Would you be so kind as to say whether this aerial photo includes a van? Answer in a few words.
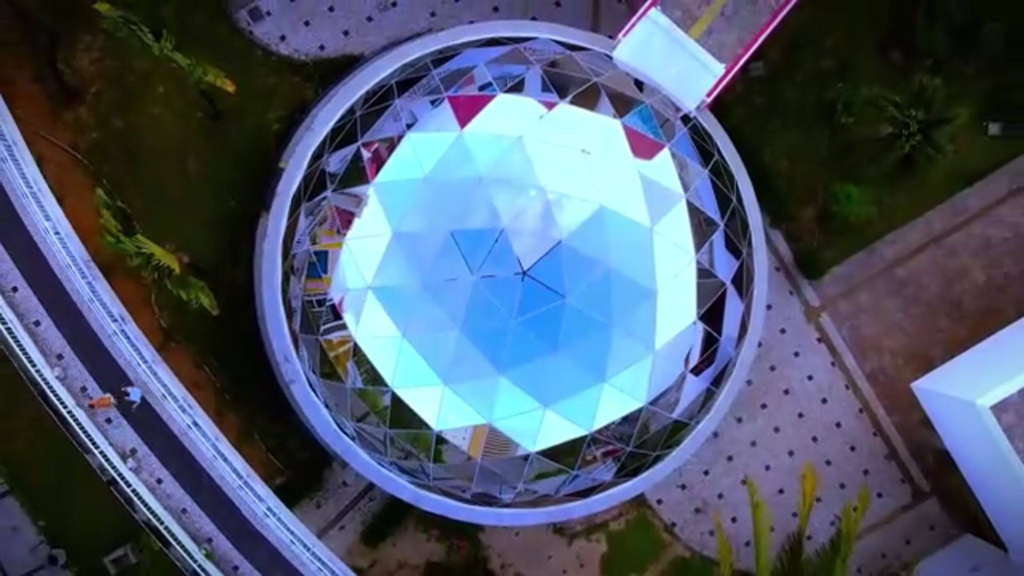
No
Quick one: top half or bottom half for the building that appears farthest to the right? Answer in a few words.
bottom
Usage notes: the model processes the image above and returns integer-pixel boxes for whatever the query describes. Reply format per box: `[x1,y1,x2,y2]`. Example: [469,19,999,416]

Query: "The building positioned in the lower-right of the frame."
[911,318,1024,576]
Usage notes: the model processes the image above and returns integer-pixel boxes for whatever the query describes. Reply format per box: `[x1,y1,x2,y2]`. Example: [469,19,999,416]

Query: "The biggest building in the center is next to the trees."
[255,19,769,524]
